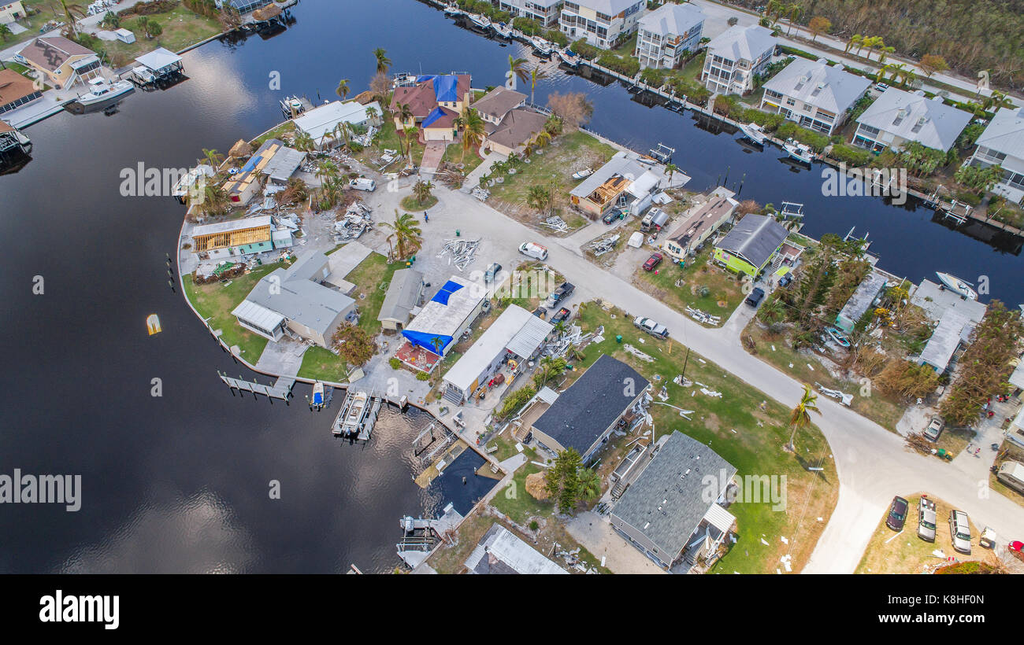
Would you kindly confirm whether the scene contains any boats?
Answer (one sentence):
Yes, there's a boat here.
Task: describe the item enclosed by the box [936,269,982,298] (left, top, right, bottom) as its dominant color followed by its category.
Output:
white boat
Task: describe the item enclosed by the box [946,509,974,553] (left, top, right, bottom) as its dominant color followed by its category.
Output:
white car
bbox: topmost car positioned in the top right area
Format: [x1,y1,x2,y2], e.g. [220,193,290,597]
[775,43,792,56]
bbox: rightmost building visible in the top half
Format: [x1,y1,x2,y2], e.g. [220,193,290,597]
[965,106,1024,190]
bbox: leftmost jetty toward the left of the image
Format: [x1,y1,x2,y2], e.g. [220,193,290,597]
[212,365,295,401]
